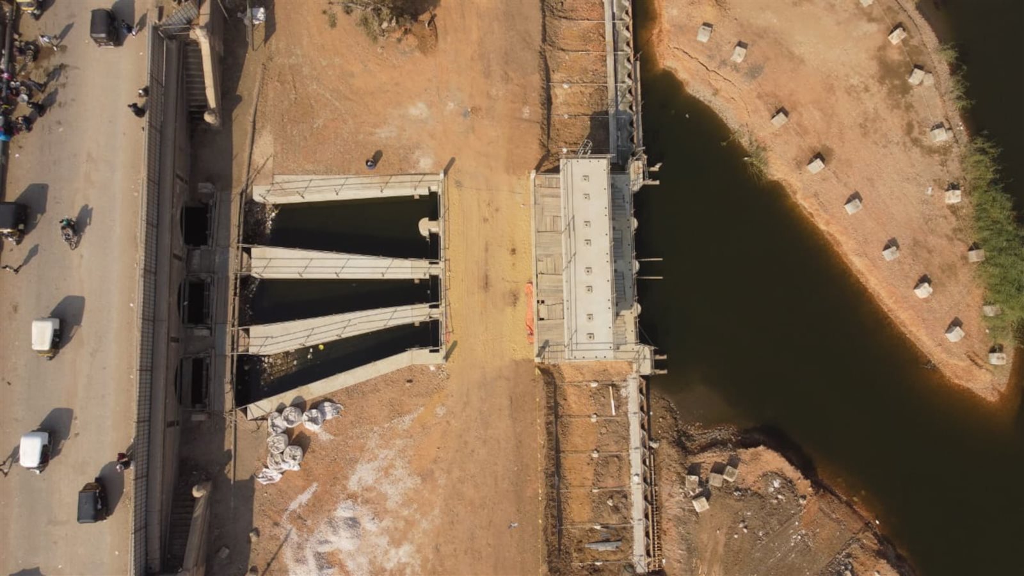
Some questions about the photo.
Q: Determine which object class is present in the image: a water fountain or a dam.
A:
dam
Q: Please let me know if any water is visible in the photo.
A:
Yes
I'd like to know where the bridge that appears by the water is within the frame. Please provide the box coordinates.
[0,0,192,576]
